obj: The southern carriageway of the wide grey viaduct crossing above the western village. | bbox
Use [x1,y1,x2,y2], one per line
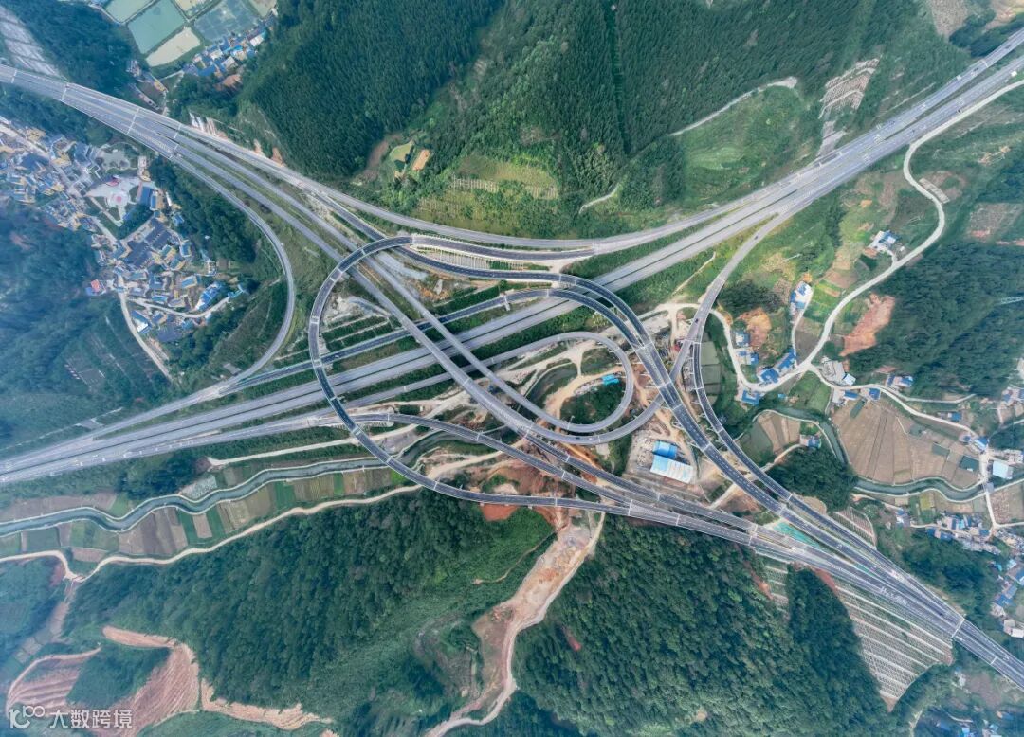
[0,72,182,155]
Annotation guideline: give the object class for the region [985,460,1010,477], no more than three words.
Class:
house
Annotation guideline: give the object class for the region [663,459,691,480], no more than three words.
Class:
shed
